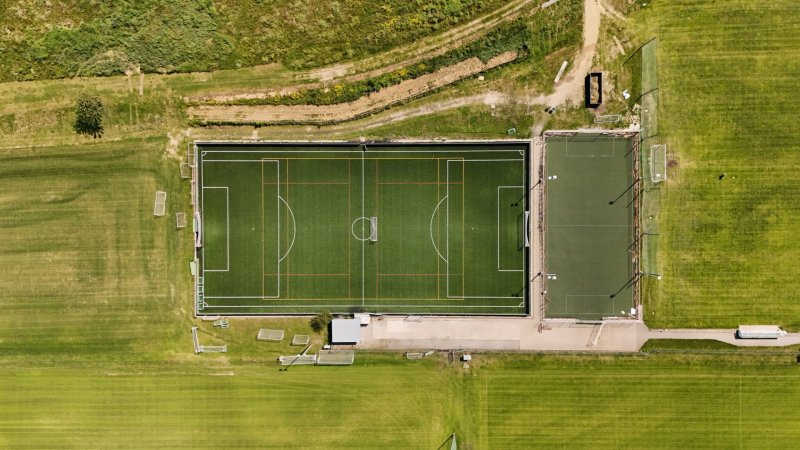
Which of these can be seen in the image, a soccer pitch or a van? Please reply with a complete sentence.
Of the two, only a soccer pitch appears.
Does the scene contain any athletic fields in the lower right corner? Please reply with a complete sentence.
Yes, an athletic field can be seen in the lower right corner.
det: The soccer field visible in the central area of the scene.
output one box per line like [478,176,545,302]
[197,144,529,315]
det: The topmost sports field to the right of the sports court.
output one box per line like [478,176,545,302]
[646,0,800,331]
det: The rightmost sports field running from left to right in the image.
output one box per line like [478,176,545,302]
[486,367,800,450]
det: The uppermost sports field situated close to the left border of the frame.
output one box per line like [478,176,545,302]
[0,140,189,353]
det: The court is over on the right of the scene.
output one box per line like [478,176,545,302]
[547,135,634,319]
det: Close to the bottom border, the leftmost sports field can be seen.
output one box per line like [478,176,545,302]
[0,364,460,450]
